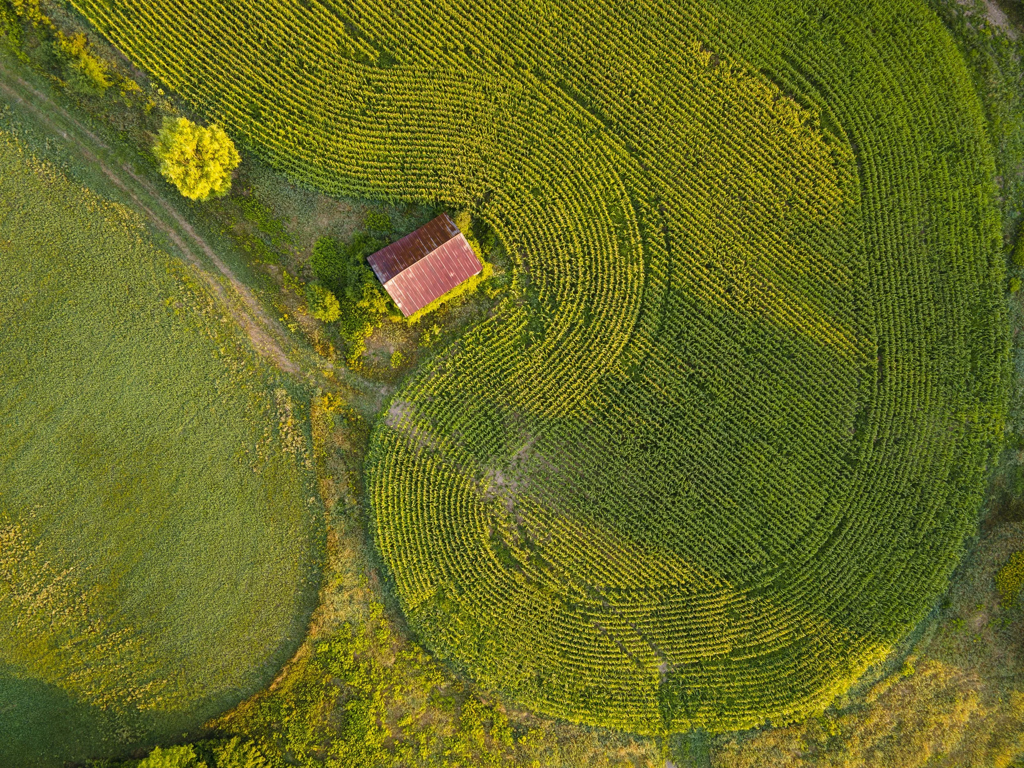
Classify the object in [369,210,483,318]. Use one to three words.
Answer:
barn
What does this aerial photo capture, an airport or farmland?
farmland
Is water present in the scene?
No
